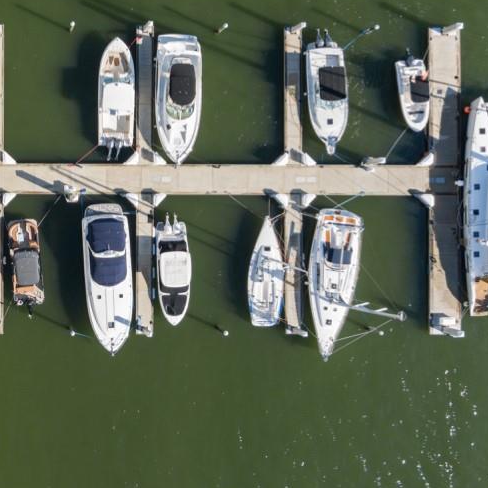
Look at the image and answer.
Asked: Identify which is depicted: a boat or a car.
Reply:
boat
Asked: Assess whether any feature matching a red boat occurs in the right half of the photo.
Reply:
No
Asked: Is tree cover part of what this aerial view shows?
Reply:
No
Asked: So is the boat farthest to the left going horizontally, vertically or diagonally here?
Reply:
vertically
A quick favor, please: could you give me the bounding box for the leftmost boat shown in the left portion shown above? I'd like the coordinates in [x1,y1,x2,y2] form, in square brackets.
[9,218,43,320]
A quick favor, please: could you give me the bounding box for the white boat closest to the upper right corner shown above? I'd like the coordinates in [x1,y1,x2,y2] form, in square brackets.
[394,45,431,132]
